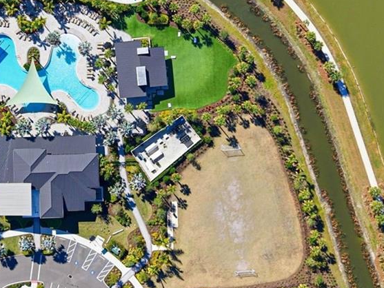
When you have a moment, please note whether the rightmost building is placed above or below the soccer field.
above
